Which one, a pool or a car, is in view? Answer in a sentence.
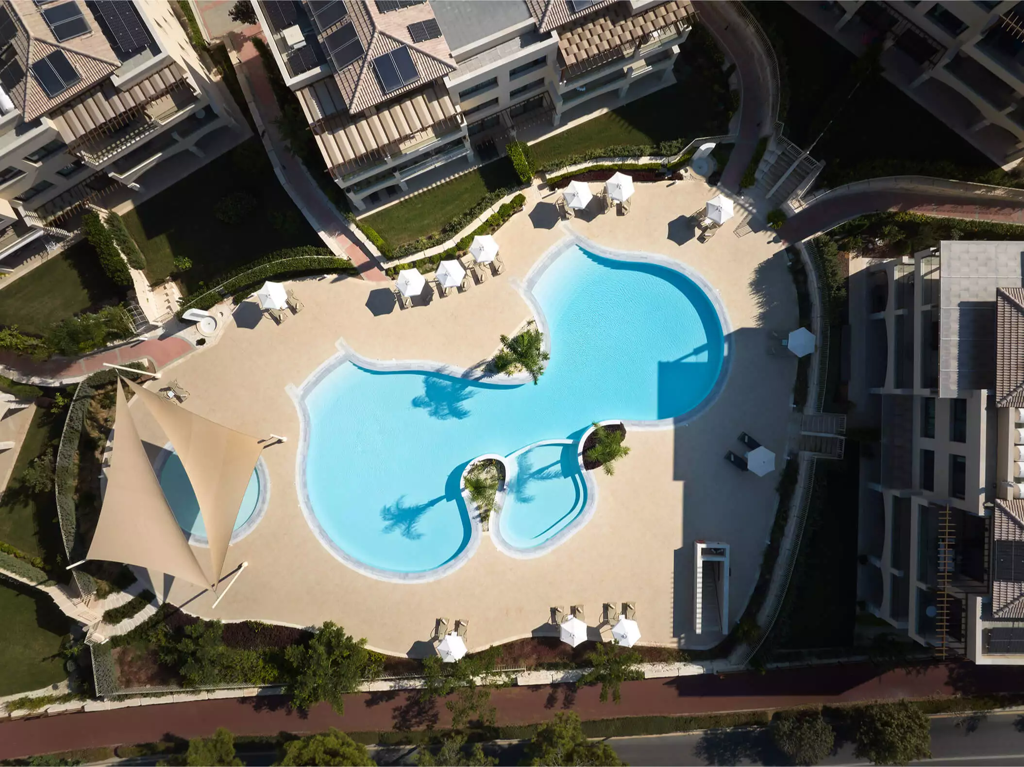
This aerial view contains a pool.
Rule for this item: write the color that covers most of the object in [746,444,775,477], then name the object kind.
blue umbrella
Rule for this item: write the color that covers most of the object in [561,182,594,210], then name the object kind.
white umbrella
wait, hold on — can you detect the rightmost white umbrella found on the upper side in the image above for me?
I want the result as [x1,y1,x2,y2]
[705,194,733,226]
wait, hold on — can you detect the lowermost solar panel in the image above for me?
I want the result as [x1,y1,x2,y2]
[991,624,1024,652]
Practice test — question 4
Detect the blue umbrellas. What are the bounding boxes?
[787,326,815,358]
[746,444,775,477]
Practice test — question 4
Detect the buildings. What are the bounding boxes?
[250,0,701,219]
[854,239,1024,666]
[785,0,1024,174]
[0,0,254,288]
